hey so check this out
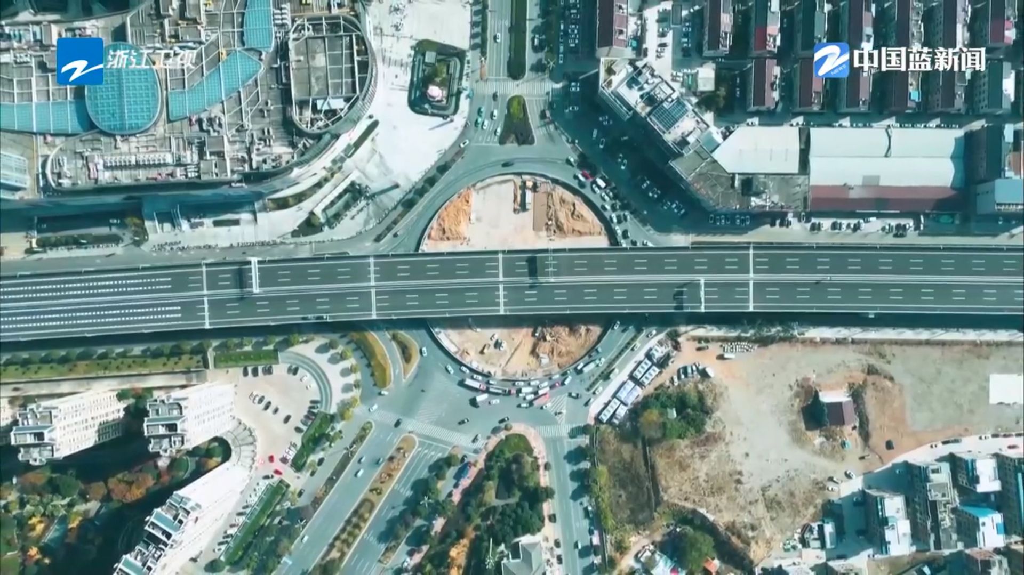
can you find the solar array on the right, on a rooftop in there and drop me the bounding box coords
[651,100,690,131]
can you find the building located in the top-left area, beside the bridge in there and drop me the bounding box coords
[0,0,382,234]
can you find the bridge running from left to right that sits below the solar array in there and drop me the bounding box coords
[0,245,1024,342]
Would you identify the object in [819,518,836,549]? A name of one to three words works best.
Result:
house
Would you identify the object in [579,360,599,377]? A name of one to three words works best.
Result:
vehicle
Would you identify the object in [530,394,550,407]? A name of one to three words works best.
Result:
vehicle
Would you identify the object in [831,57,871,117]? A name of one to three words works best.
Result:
building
